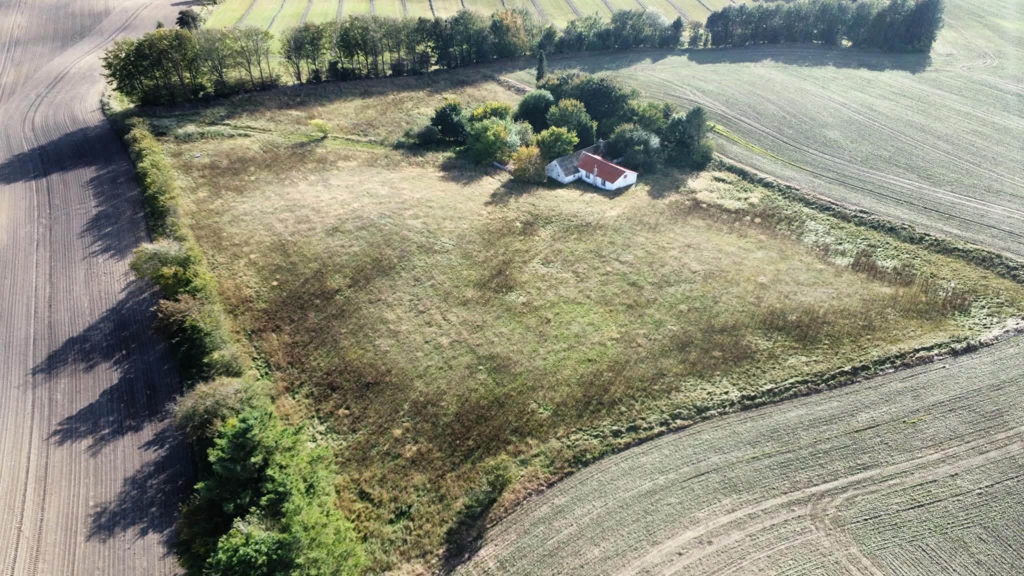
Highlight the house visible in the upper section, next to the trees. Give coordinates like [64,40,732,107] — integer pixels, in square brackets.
[544,136,637,190]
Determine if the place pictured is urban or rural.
rural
